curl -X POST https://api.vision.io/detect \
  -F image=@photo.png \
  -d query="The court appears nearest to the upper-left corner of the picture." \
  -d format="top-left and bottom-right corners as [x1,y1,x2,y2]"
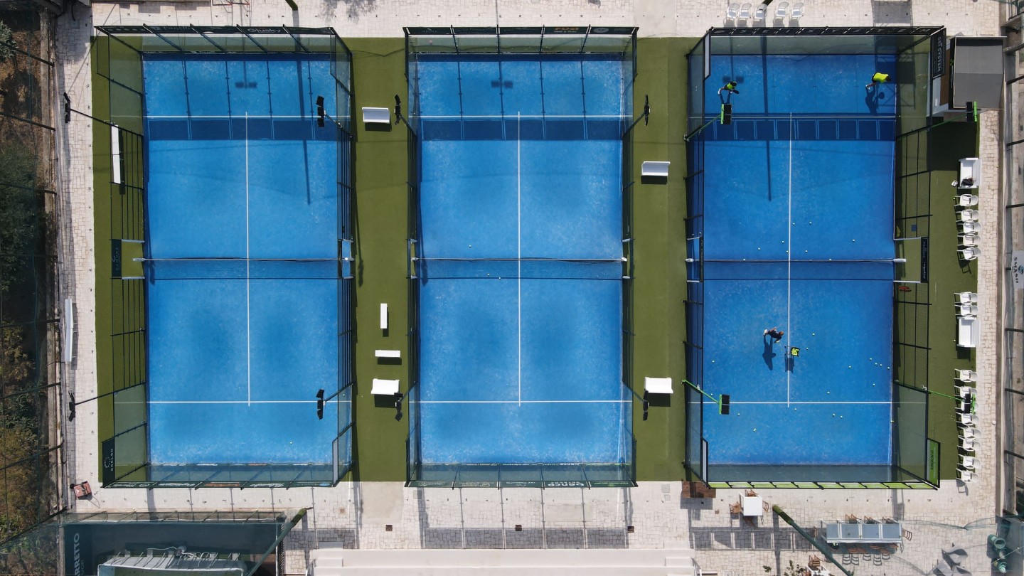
[142,52,353,465]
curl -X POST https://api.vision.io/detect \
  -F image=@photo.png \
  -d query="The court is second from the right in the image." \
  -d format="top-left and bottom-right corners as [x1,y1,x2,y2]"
[415,53,624,465]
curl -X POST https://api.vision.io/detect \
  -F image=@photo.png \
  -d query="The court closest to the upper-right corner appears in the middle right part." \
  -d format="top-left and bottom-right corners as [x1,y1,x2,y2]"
[684,53,895,465]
